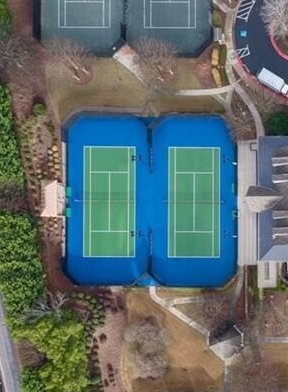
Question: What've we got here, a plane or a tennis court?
tennis court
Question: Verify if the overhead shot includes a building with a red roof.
No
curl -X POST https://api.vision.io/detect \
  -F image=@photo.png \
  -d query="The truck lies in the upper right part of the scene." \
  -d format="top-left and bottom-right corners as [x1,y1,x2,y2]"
[257,66,288,96]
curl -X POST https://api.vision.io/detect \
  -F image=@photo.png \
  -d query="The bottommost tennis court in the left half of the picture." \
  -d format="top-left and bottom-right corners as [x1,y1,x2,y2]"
[68,114,151,286]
